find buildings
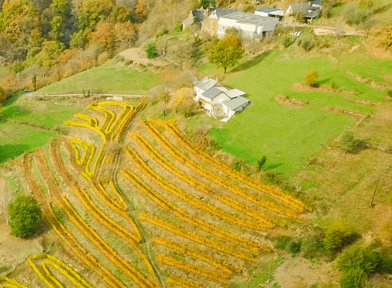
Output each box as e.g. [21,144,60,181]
[216,12,279,40]
[196,77,251,123]
[178,6,209,32]
[279,0,319,27]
